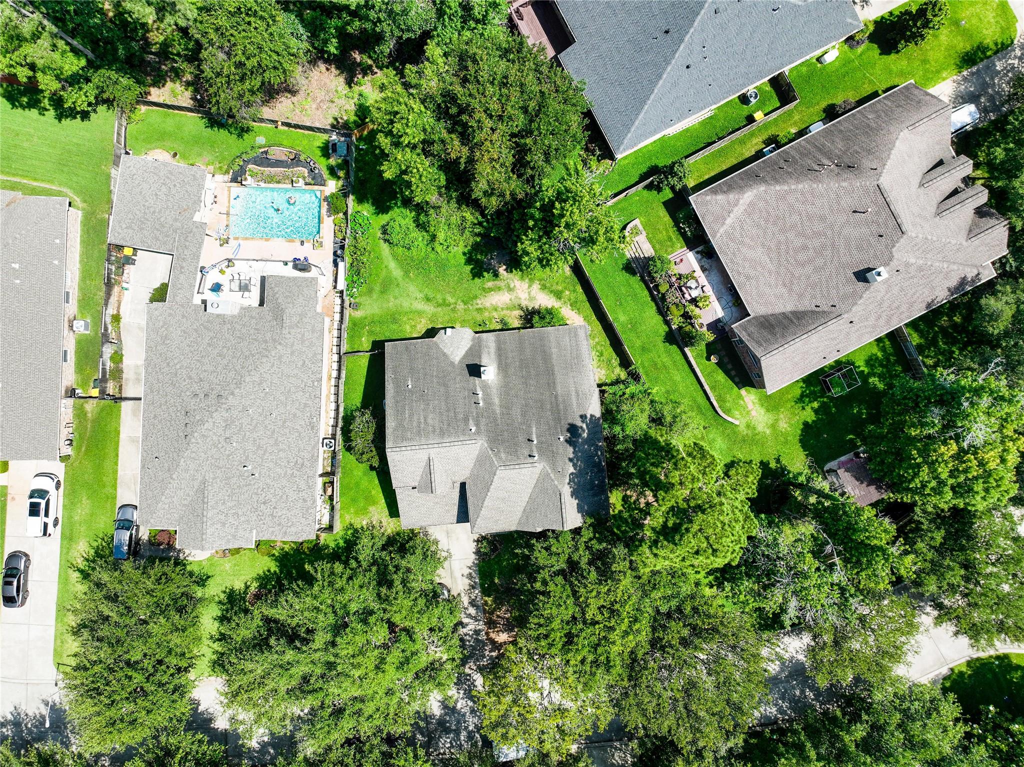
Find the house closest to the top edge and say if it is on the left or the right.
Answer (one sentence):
It is on the right.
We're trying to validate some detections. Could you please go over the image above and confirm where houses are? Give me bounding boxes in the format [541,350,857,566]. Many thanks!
[548,0,865,162]
[688,79,1008,395]
[137,275,328,552]
[0,191,87,463]
[384,324,612,534]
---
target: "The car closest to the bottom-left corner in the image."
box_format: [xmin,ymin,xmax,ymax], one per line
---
[0,548,32,612]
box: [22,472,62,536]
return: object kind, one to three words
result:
car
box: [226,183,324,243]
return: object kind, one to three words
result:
swimming pool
